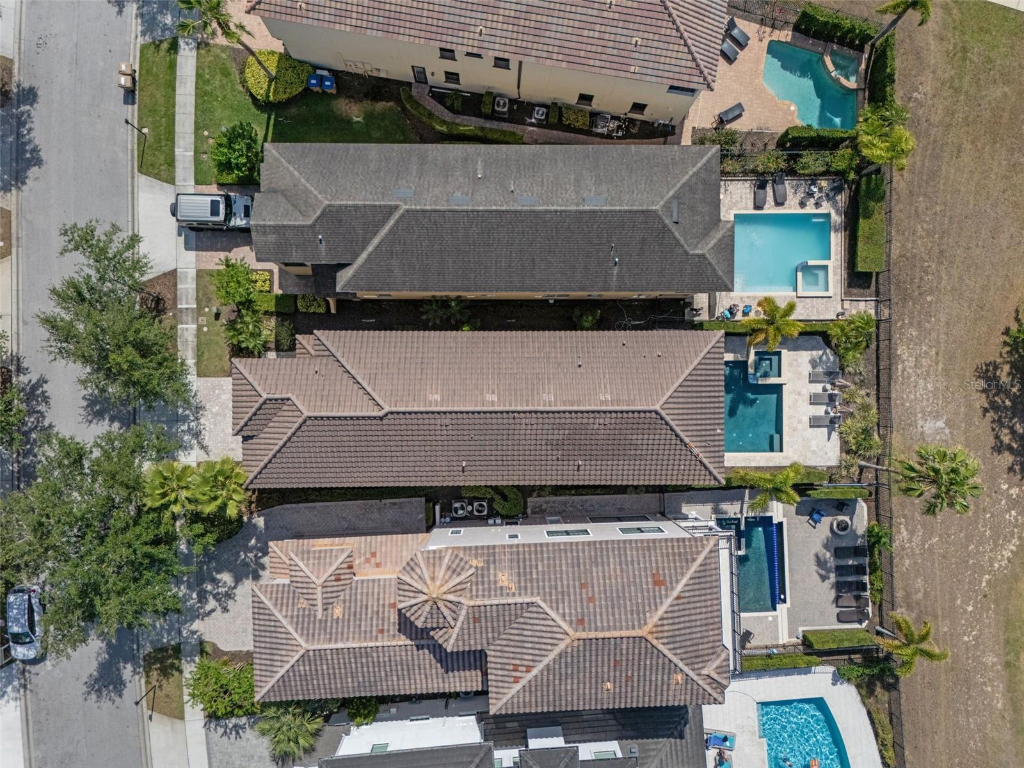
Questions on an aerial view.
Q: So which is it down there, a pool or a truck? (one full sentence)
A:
Of the two, only a pool appears.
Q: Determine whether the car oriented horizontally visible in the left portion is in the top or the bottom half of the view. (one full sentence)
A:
Seen from above, the car oriented horizontally visible in the left portion lies in the top half of the view.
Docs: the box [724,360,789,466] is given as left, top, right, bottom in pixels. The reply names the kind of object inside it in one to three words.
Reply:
swimming pool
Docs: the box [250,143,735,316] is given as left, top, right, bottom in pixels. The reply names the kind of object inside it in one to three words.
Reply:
house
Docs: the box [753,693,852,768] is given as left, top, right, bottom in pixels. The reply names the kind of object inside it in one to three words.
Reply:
swimming pool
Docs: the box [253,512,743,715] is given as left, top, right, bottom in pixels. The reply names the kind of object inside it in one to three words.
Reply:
house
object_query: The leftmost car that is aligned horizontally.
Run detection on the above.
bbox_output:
[173,194,254,230]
